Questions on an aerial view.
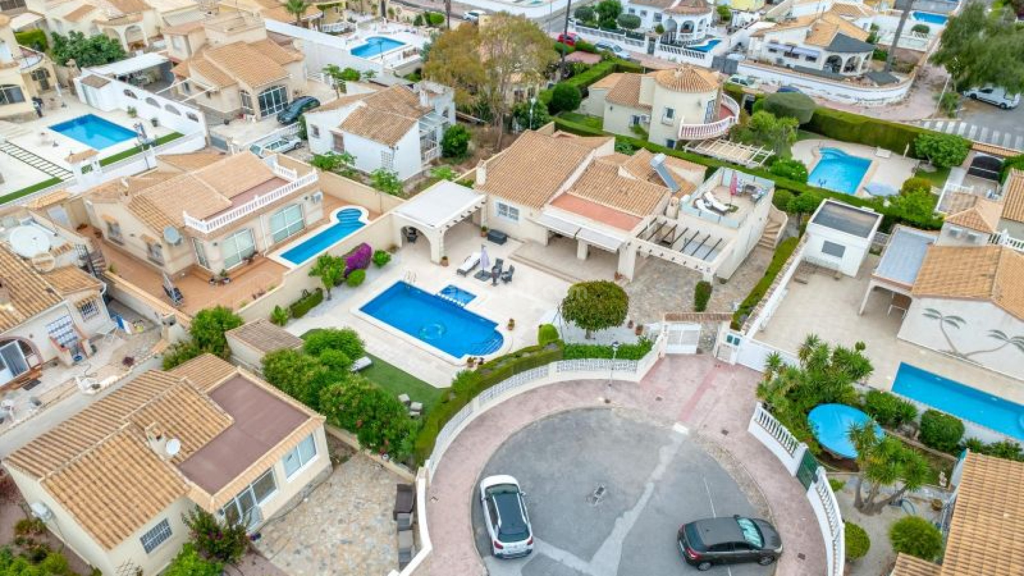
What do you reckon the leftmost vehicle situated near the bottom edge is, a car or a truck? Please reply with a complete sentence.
It turns out the leftmost vehicle situated near the bottom edge is a car.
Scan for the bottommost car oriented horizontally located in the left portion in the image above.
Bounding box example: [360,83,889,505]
[249,130,302,159]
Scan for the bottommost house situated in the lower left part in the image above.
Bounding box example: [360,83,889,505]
[5,352,332,576]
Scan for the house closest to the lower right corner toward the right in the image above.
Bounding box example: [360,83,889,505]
[891,450,1024,576]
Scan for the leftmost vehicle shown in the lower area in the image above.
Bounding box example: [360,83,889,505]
[479,476,535,565]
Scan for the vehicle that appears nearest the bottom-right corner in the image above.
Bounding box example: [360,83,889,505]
[676,516,786,573]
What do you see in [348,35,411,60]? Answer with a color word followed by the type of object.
blue swimming pool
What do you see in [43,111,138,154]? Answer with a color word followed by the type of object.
blue swimming pool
